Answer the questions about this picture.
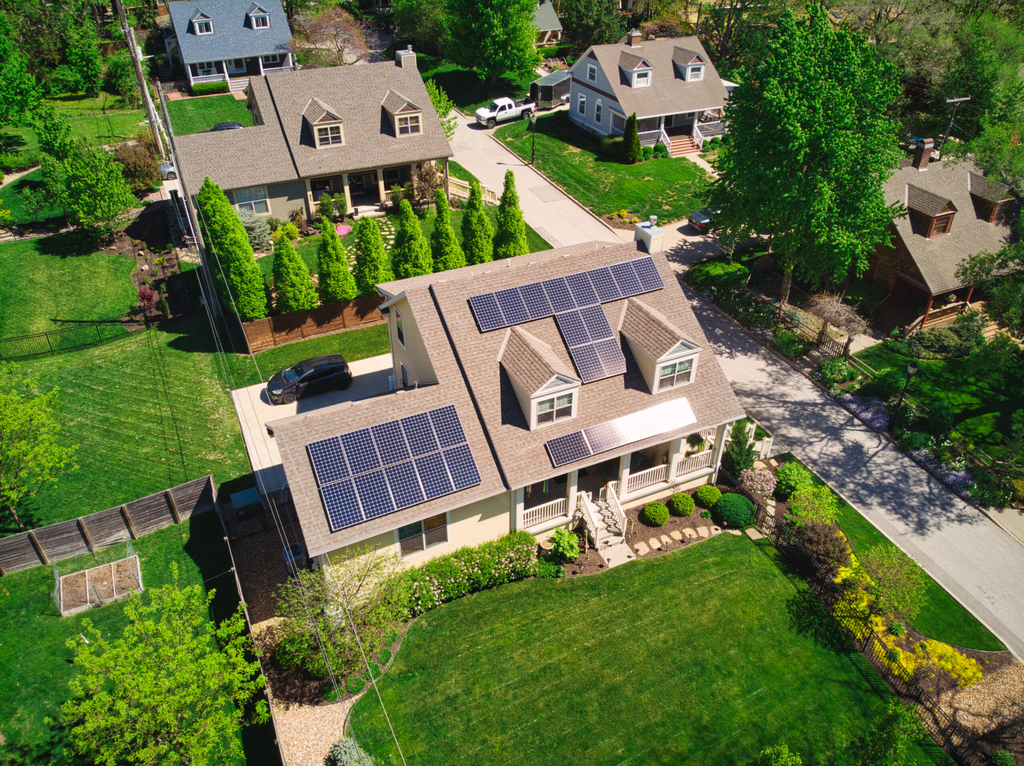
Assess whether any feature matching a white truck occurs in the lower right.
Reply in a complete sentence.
No, there's no white truck to be seen in the lower right.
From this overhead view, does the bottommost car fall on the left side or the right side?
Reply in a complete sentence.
The bottommost car is on the left side of the image.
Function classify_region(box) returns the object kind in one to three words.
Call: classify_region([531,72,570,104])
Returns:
trailer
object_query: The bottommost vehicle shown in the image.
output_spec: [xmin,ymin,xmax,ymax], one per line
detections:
[270,355,358,406]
